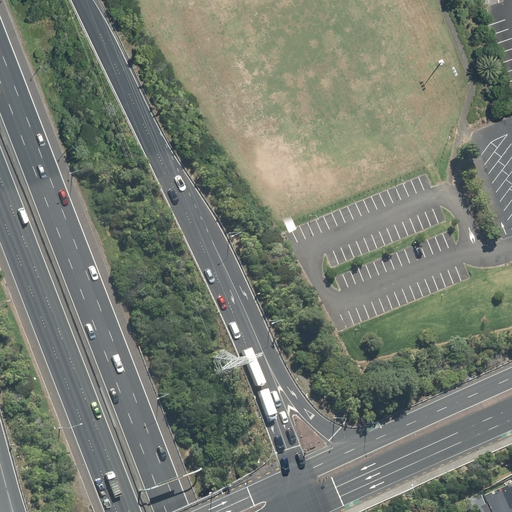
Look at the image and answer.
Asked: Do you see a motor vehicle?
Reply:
Yes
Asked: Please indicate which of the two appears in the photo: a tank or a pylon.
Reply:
pylon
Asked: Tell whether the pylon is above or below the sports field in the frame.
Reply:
below it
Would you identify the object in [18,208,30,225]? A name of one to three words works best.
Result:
vehicle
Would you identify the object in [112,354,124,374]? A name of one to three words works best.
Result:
vehicle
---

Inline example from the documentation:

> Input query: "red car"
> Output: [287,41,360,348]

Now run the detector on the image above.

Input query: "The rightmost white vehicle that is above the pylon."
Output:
[229,321,241,340]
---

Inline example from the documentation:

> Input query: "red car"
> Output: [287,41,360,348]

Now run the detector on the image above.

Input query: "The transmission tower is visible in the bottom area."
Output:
[210,348,264,374]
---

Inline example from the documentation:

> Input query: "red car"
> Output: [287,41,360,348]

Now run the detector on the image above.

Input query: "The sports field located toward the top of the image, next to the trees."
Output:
[140,0,466,222]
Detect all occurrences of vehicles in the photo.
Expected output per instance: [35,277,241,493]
[258,386,278,420]
[58,189,69,206]
[229,321,241,340]
[102,498,112,510]
[37,164,47,179]
[295,452,305,470]
[104,470,122,498]
[174,174,186,192]
[88,264,98,281]
[18,208,30,225]
[216,294,228,311]
[274,434,284,452]
[167,188,179,205]
[108,388,120,404]
[95,478,106,496]
[90,402,102,420]
[271,390,282,408]
[112,354,124,374]
[413,244,424,260]
[36,132,46,147]
[286,428,296,444]
[156,446,167,462]
[204,268,215,284]
[85,323,96,339]
[280,457,290,476]
[279,410,288,424]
